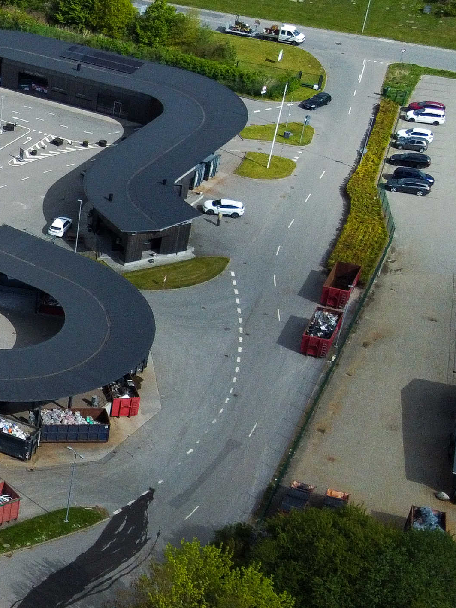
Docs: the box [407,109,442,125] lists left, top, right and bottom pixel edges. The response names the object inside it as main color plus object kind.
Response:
white car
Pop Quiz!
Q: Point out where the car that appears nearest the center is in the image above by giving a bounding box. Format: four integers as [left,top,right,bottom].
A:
[205,199,242,219]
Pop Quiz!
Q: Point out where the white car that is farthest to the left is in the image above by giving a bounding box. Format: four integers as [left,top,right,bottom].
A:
[48,216,70,237]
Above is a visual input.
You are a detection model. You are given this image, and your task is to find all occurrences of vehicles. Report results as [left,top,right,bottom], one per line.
[393,154,430,171]
[205,199,242,219]
[48,216,70,237]
[261,26,302,45]
[411,99,444,112]
[396,170,435,186]
[407,109,442,125]
[304,92,332,110]
[388,179,427,196]
[398,128,433,145]
[398,137,426,153]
